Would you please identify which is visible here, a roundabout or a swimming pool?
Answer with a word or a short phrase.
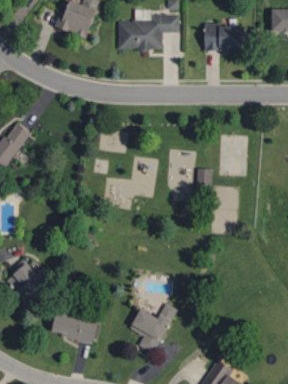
swimming pool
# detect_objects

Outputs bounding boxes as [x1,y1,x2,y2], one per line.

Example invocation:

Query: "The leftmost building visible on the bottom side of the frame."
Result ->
[6,260,37,292]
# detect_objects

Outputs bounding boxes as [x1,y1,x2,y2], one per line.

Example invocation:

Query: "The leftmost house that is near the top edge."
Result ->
[54,0,98,39]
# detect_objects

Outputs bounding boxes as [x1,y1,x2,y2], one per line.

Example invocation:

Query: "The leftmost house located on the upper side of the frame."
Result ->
[0,123,32,163]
